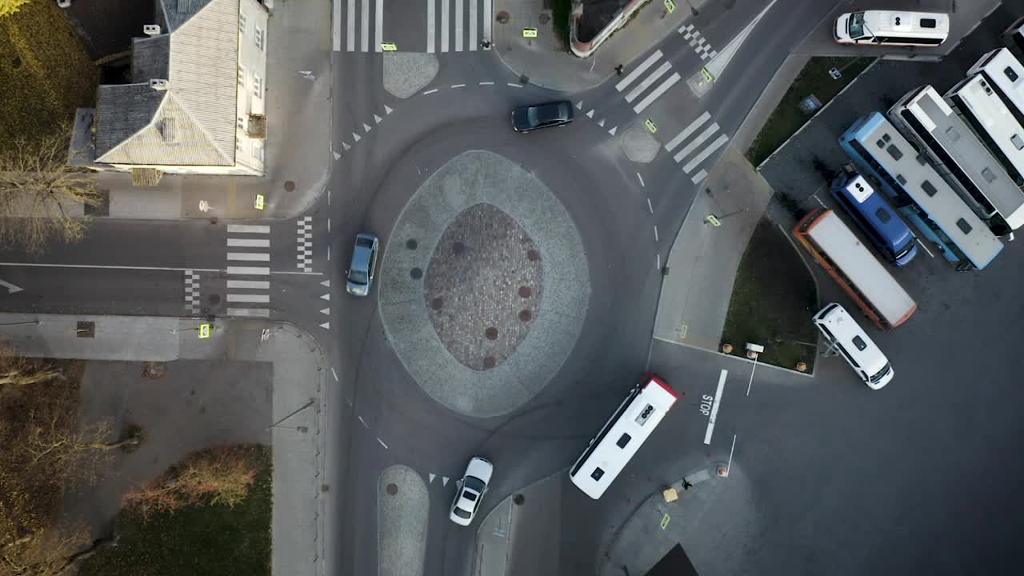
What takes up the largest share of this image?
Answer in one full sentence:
The bulk of the photo consists of paved ground.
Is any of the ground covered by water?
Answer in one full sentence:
No, there is no water in the image.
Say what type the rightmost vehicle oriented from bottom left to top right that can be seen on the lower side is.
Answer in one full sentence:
Specifically, the rightmost vehicle oriented from bottom left to top right that can be seen on the lower side is a bus.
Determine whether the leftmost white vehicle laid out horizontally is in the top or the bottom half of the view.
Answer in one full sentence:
Seen from above, the leftmost white vehicle laid out horizontally lies in the top half of the view.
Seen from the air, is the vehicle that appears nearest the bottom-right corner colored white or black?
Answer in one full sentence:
The vehicle that appears nearest the bottom-right corner is white.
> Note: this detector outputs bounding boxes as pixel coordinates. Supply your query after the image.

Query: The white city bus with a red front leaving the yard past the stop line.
[569,367,683,497]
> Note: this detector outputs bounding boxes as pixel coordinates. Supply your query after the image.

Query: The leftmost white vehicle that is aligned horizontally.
[831,7,953,50]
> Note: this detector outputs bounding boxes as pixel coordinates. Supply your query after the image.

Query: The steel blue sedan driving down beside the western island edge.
[345,234,380,296]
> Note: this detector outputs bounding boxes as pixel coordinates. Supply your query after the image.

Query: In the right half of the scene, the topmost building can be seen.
[568,0,663,59]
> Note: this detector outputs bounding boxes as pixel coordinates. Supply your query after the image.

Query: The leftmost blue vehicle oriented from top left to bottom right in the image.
[827,170,913,263]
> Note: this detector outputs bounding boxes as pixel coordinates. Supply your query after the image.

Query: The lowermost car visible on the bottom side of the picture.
[449,455,492,525]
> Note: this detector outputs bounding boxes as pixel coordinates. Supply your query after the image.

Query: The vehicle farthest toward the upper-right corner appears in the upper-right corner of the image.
[985,17,1024,65]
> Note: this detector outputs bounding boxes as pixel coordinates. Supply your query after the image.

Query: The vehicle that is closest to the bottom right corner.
[808,301,887,390]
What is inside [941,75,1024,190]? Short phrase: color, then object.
white bus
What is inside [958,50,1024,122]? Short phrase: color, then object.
white bus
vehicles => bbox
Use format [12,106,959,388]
[958,50,1024,122]
[831,7,953,50]
[985,17,1024,65]
[791,210,920,335]
[827,170,913,263]
[882,85,1024,240]
[345,234,380,296]
[834,115,1005,277]
[941,75,1024,190]
[449,455,492,525]
[808,301,887,390]
[569,367,683,497]
[510,100,575,133]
